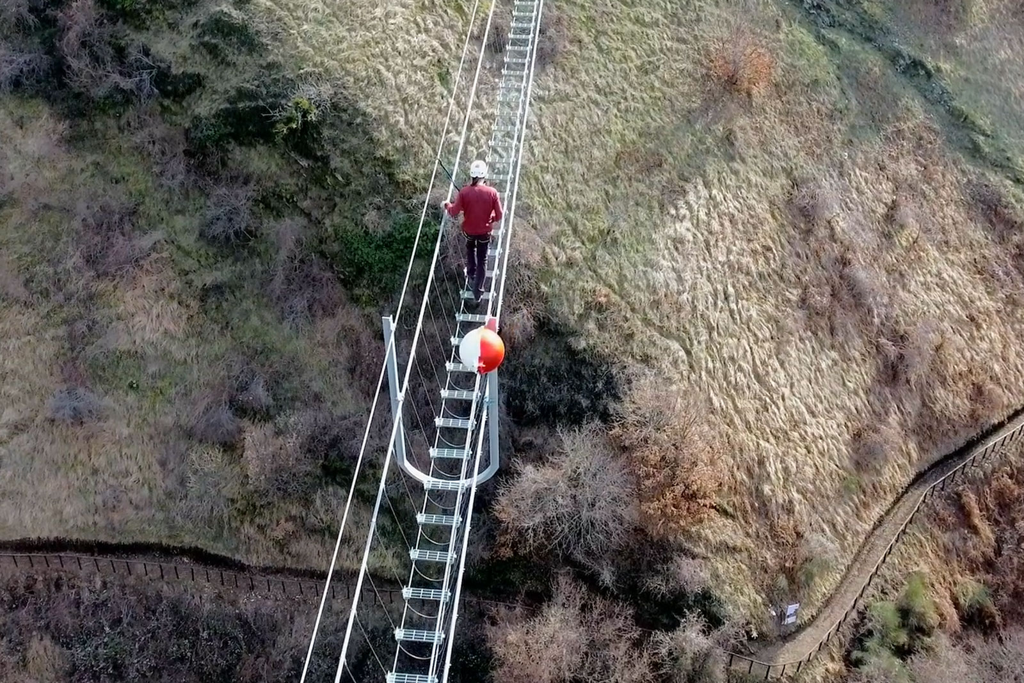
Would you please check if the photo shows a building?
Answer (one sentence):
No, no building can be seen from above.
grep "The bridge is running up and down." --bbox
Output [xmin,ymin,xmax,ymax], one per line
[301,0,544,683]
